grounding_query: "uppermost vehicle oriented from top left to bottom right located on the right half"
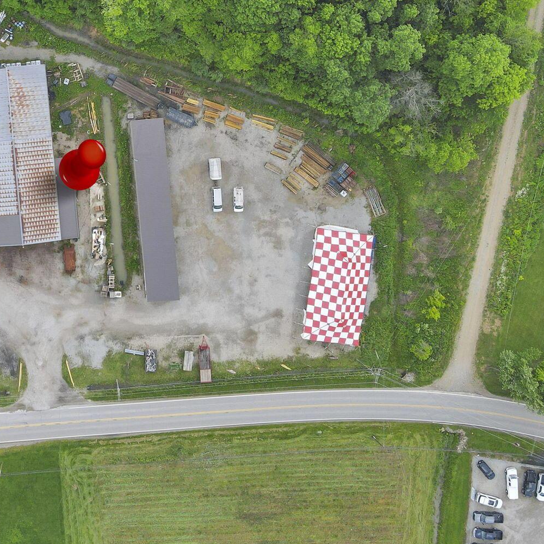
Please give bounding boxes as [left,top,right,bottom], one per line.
[474,457,496,481]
